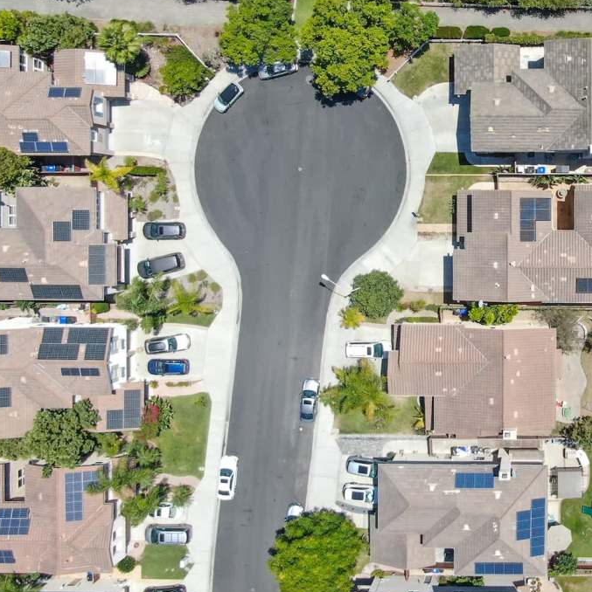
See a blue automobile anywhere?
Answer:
Yes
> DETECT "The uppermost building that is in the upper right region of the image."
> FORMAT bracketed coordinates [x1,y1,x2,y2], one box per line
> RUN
[455,31,592,162]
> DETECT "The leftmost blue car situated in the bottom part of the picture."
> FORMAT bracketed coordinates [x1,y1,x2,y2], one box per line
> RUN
[147,357,191,377]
